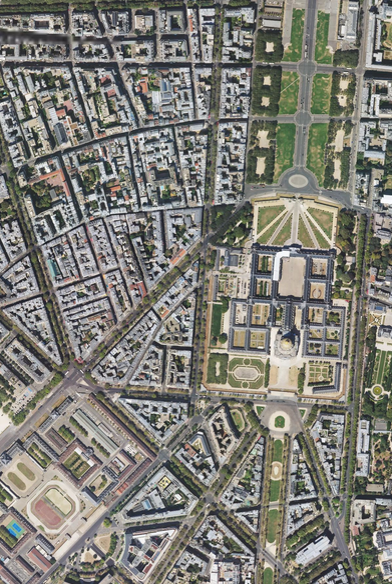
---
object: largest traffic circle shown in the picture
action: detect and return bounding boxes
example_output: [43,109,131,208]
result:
[279,167,321,191]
